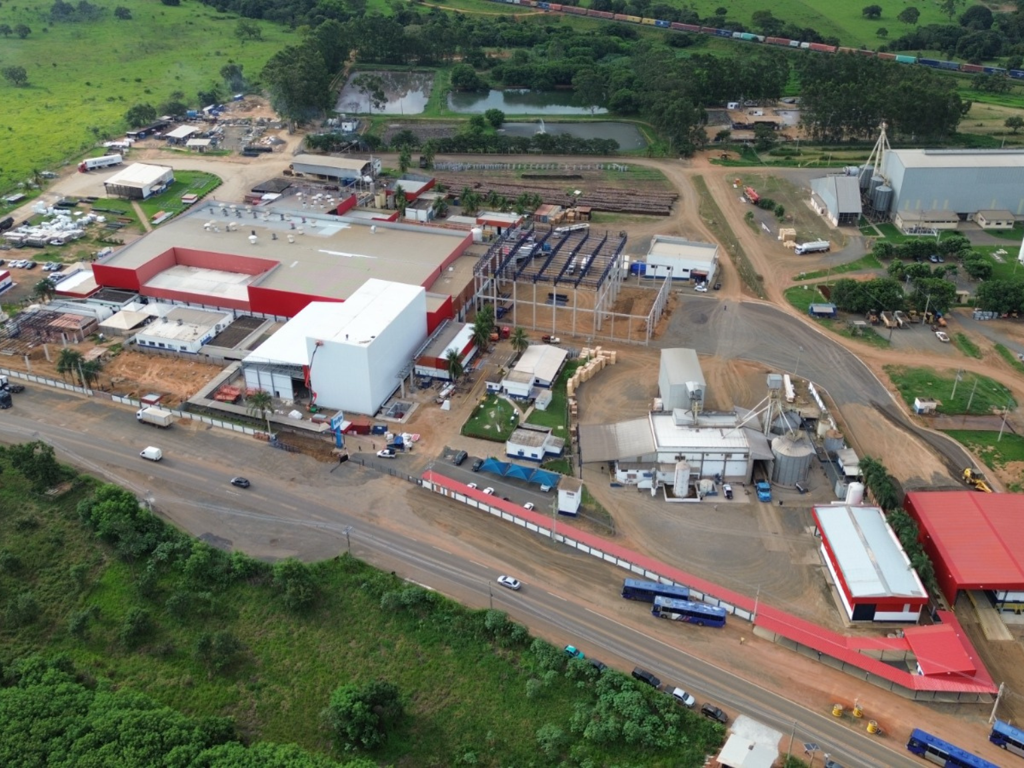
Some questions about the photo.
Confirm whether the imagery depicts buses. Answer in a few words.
Yes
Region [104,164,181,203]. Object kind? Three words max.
building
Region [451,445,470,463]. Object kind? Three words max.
car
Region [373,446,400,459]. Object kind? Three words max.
vehicle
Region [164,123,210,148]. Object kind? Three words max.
shed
